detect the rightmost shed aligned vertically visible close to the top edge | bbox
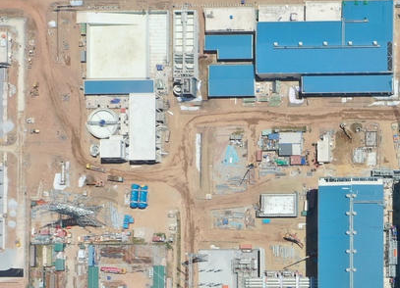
[149,13,170,64]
